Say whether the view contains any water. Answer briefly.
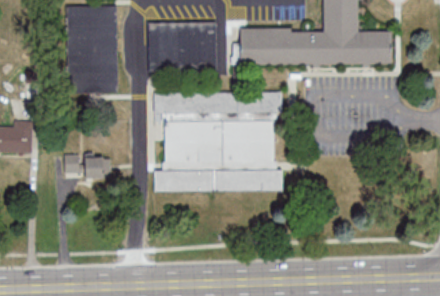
No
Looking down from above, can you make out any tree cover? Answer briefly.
Yes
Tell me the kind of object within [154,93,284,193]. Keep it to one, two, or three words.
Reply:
building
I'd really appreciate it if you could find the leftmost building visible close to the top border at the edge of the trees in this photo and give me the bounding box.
[68,6,117,94]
